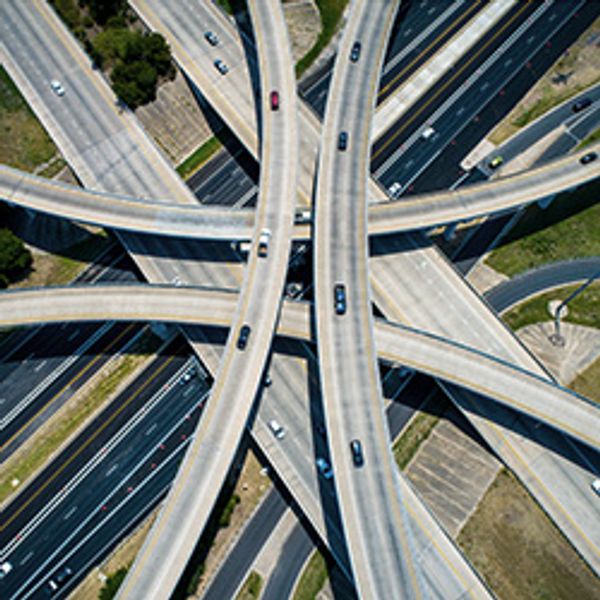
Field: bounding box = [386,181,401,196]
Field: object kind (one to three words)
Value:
car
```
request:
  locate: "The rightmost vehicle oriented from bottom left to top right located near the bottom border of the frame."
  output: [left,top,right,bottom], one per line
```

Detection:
[47,565,76,594]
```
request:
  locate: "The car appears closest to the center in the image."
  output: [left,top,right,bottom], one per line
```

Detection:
[284,279,302,298]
